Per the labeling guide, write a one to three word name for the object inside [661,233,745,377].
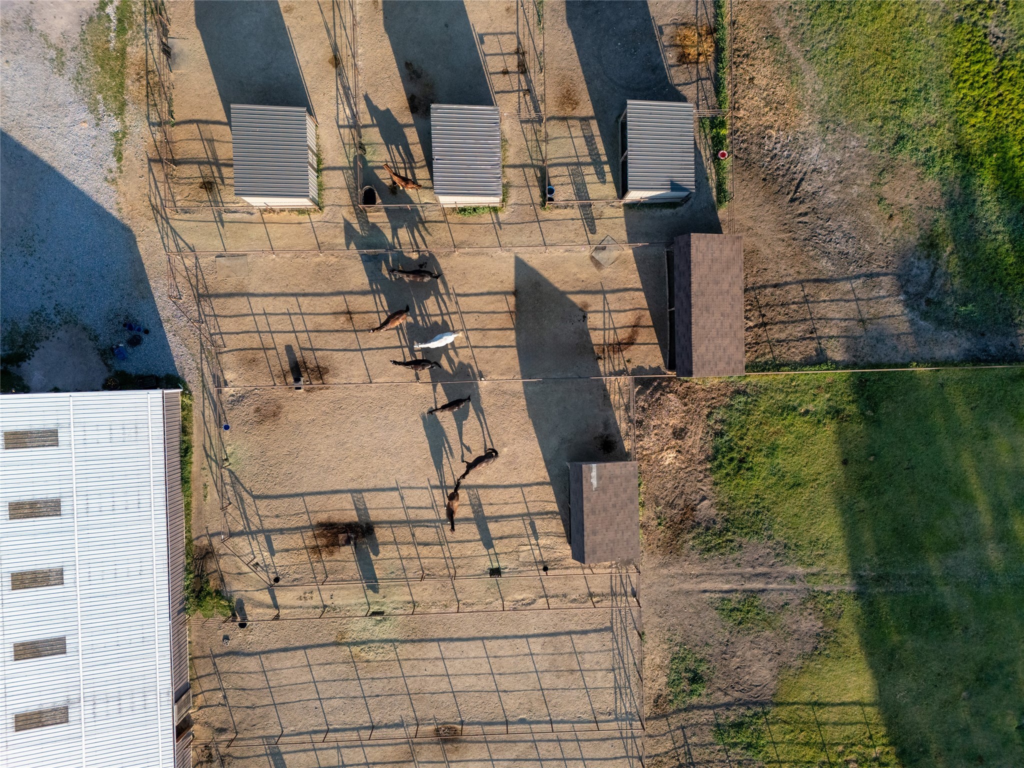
shed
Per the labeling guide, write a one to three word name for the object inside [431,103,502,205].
shed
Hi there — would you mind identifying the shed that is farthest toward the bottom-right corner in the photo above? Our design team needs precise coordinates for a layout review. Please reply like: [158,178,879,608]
[562,457,640,564]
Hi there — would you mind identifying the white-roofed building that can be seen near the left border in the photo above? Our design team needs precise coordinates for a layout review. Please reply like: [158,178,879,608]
[0,388,194,768]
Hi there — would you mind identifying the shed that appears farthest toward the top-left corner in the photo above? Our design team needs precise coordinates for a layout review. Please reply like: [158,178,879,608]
[230,103,318,206]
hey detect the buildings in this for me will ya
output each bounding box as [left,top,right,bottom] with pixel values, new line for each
[0,388,194,768]
[431,103,502,205]
[562,457,640,564]
[620,99,695,200]
[661,233,745,377]
[230,103,318,206]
